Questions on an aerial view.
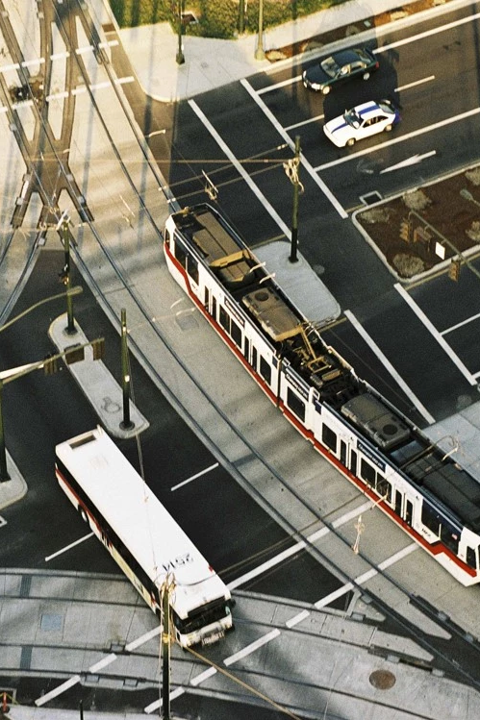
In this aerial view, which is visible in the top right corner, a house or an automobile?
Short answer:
automobile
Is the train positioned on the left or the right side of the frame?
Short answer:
right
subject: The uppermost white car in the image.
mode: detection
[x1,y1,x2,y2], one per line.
[321,104,401,151]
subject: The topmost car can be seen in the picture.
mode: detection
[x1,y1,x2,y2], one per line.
[303,50,383,95]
